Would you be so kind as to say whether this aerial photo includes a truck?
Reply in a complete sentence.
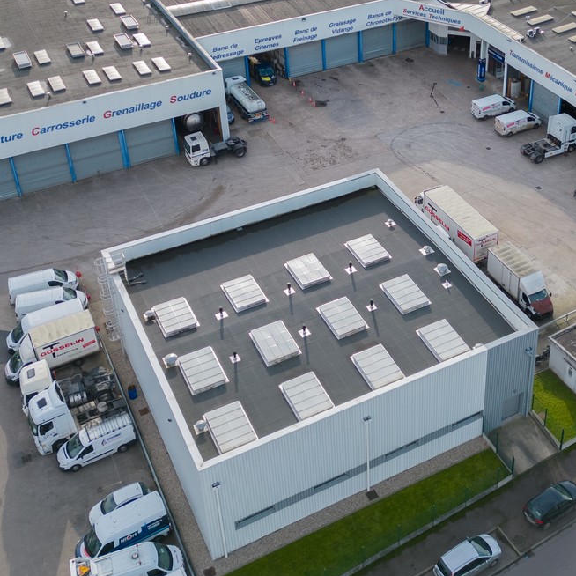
Yes, the image includes a truck.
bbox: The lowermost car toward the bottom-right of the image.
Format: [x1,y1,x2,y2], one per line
[431,533,502,576]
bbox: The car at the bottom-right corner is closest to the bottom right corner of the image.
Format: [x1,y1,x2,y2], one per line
[524,481,576,531]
